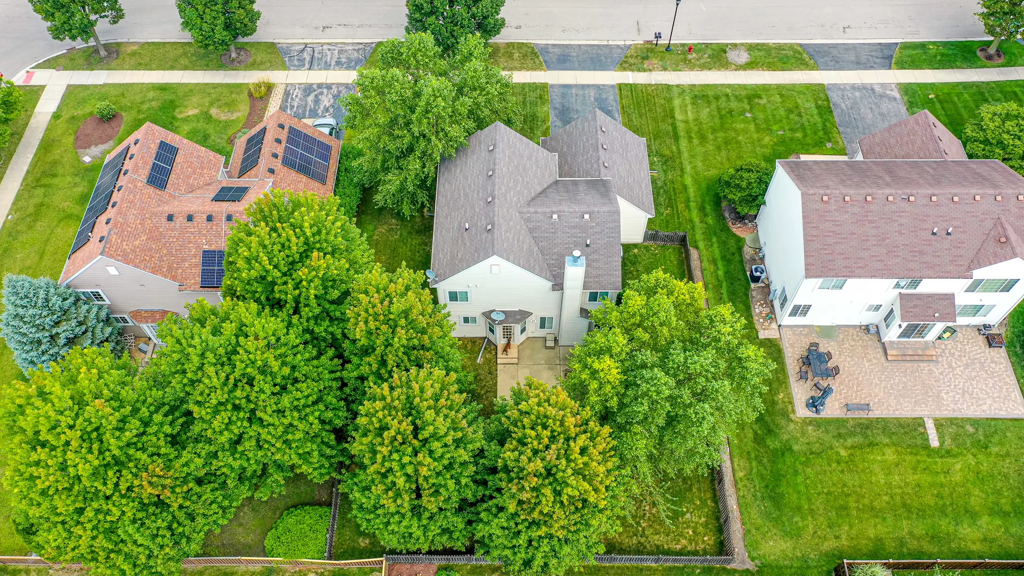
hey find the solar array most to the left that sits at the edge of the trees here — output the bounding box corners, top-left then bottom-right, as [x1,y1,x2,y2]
[63,137,131,268]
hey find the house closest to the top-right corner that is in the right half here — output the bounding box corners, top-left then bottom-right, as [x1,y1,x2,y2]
[757,110,1024,360]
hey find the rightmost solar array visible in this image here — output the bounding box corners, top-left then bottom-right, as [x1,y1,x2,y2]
[286,124,335,181]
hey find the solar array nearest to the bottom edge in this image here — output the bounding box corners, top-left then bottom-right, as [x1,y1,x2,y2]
[202,251,233,286]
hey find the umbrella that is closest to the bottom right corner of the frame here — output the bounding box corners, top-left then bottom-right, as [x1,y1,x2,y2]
[807,379,838,413]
